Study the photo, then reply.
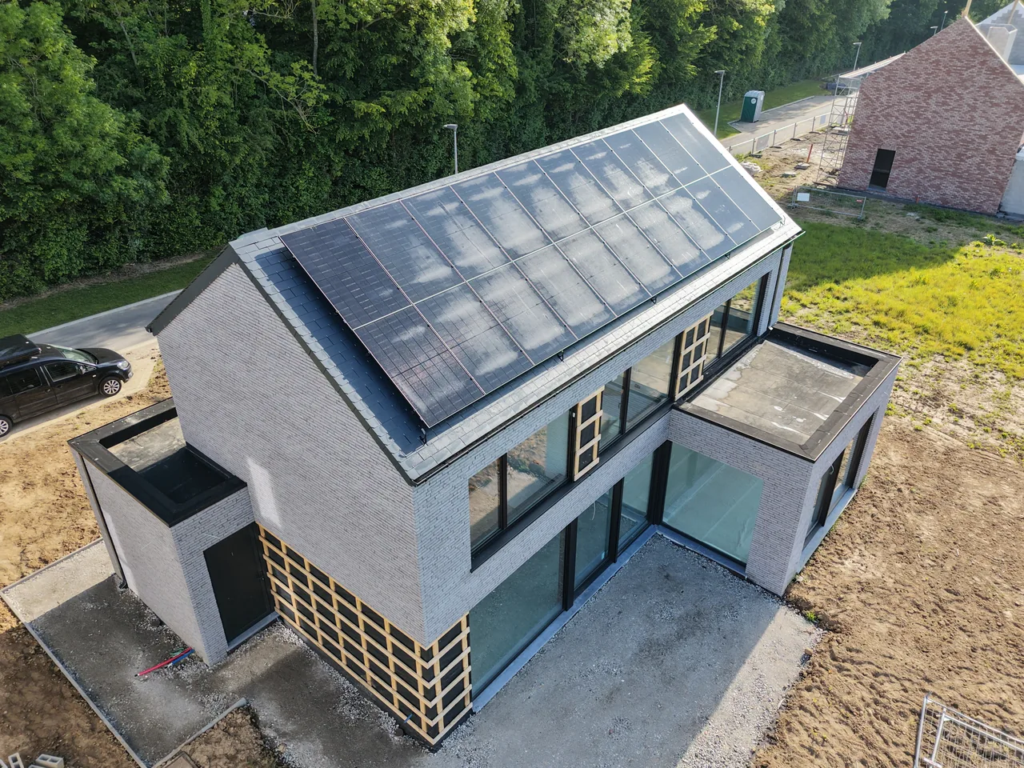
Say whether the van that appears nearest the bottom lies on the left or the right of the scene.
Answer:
left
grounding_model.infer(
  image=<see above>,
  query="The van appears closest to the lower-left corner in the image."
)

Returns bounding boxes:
[0,339,134,438]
